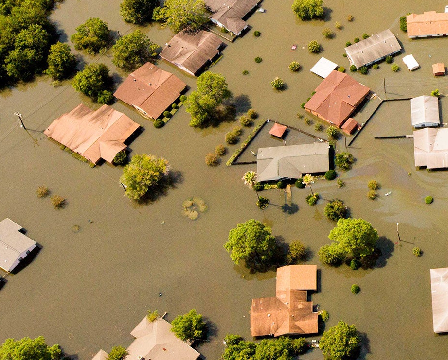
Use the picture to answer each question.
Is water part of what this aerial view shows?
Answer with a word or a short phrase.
Yes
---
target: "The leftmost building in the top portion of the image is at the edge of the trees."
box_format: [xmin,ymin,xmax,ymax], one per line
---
[44,93,140,169]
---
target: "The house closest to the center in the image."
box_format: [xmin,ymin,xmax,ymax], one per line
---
[256,142,328,183]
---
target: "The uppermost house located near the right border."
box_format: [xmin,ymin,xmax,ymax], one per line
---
[407,11,448,39]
